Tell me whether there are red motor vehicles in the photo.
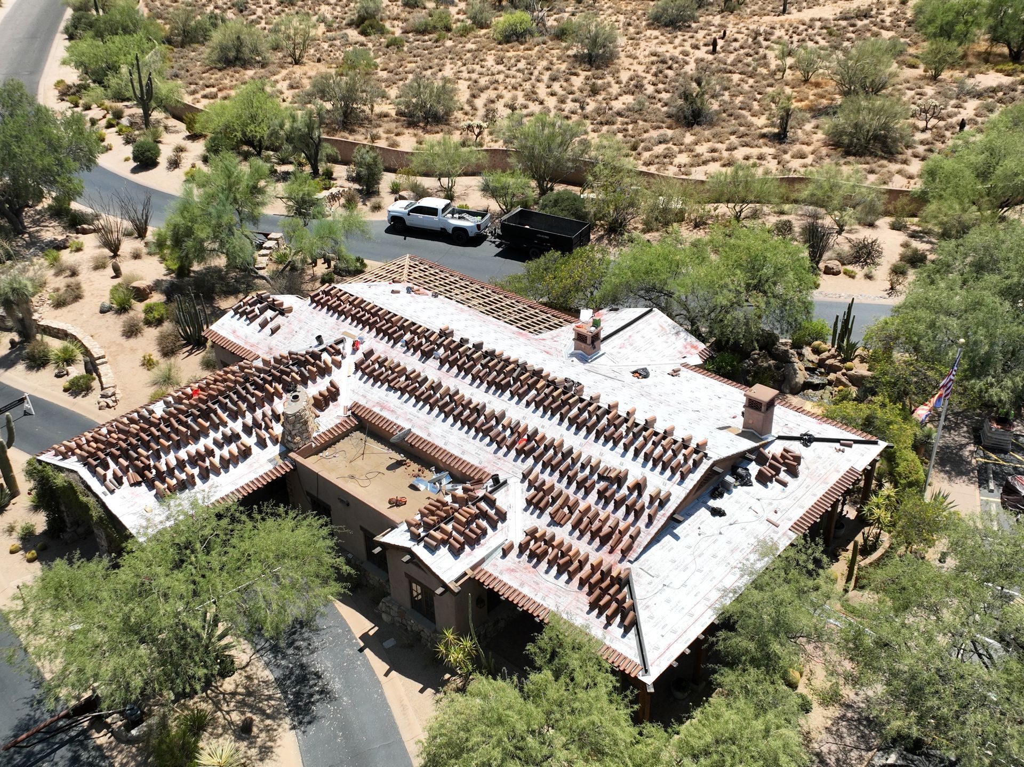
No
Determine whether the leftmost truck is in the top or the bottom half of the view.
top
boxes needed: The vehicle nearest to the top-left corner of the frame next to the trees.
[383,193,495,245]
